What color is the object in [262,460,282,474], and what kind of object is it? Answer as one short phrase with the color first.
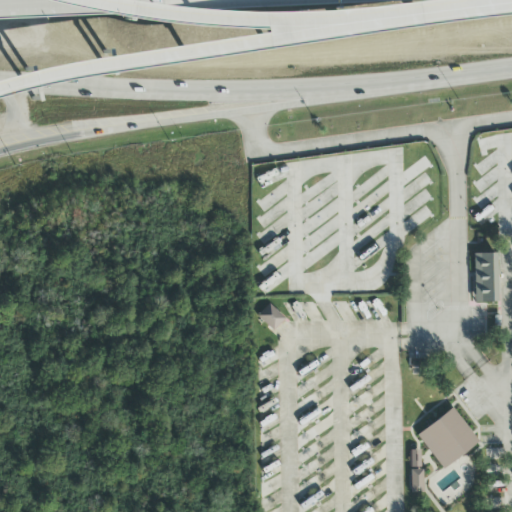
white vehicle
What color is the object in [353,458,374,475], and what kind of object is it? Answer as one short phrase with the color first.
white camper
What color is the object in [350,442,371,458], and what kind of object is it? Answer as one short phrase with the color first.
white vehicle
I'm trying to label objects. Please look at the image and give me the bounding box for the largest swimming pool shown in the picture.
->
[428,456,475,504]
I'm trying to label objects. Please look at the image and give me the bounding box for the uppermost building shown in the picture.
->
[476,253,500,302]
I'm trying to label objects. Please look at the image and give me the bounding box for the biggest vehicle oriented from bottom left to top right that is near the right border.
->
[474,205,495,221]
